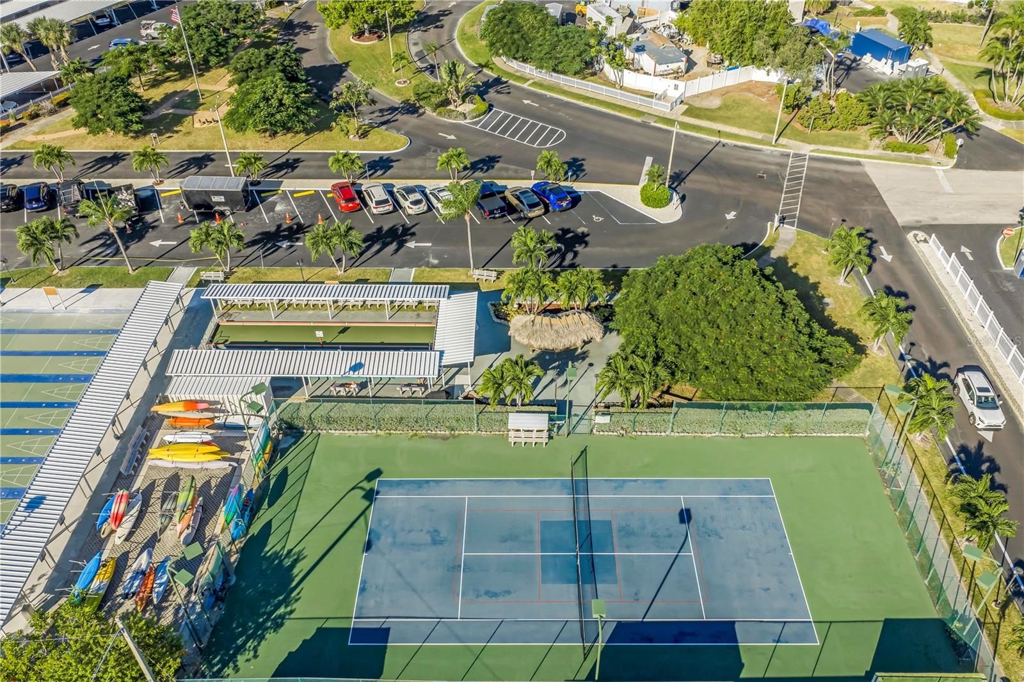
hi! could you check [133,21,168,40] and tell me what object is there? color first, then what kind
white vehicle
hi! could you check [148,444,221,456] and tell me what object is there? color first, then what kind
yellow boat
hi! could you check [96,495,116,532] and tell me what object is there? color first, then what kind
blue boat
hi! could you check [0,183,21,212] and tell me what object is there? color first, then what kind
black car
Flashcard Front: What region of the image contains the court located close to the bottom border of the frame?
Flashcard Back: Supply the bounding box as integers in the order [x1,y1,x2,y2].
[199,433,986,682]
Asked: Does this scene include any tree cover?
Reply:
Yes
